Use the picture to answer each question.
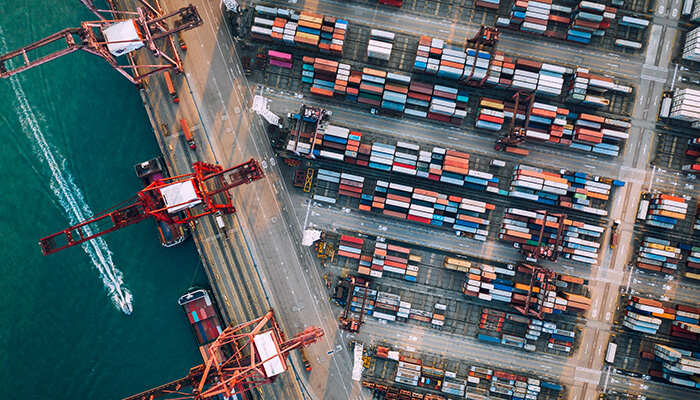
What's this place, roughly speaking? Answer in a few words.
port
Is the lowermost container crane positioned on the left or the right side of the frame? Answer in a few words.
left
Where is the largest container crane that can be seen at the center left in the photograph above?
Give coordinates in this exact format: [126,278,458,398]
[36,155,265,259]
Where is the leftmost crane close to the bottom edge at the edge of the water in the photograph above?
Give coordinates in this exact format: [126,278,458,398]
[109,306,327,400]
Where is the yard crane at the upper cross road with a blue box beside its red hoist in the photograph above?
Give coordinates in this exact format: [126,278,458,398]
[461,28,500,87]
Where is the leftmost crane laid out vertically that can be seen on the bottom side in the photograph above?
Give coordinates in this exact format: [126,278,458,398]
[340,274,371,331]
